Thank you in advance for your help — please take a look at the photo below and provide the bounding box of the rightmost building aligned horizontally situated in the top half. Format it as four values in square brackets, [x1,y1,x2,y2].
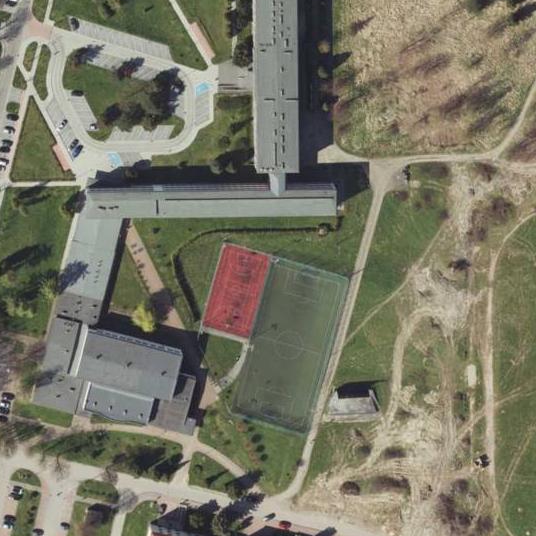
[81,181,336,218]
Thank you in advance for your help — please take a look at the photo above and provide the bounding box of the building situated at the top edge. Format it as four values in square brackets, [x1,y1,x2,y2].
[250,0,299,173]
